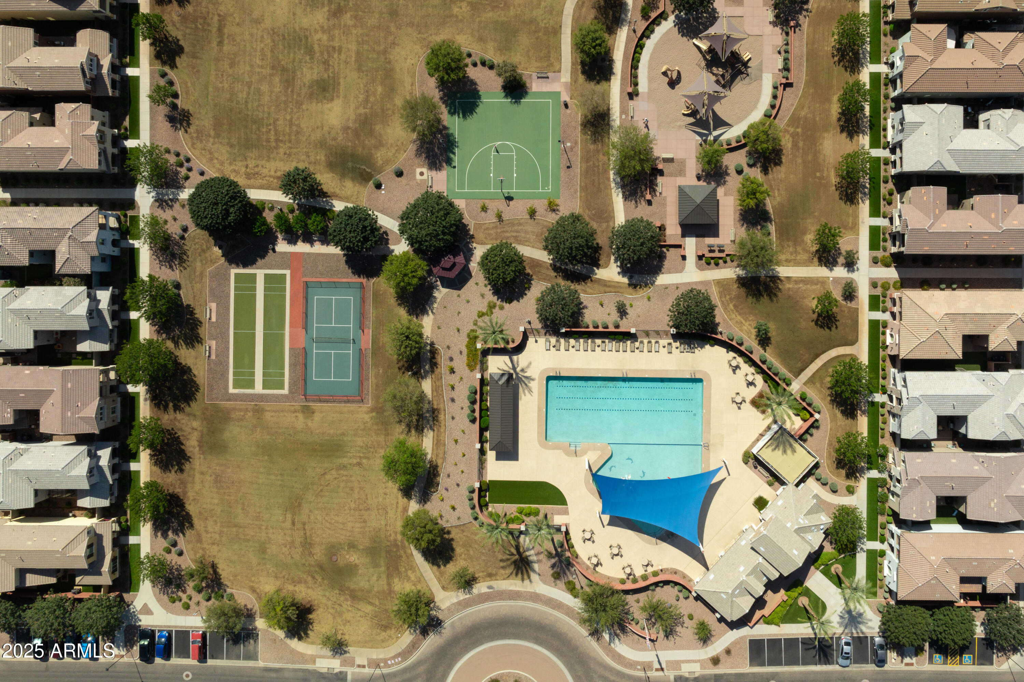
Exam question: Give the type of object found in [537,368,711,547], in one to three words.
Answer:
swimming pool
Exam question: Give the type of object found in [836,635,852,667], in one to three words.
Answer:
car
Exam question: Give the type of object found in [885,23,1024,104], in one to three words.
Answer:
house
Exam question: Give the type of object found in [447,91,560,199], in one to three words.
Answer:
basketball court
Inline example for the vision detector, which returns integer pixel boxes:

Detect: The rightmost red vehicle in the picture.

[190,631,205,661]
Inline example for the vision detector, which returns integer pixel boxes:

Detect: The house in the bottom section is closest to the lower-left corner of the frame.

[0,519,122,594]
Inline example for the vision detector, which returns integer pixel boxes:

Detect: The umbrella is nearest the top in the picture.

[699,10,749,61]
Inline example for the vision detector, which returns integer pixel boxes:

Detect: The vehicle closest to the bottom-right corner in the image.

[872,635,887,668]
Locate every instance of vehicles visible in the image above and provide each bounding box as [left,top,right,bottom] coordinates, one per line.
[190,631,205,661]
[872,635,887,668]
[48,632,64,661]
[836,635,852,667]
[80,632,97,660]
[156,631,171,659]
[138,629,155,662]
[31,636,48,661]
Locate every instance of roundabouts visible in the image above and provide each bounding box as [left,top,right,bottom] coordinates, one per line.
[449,640,572,682]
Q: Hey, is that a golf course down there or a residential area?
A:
residential area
